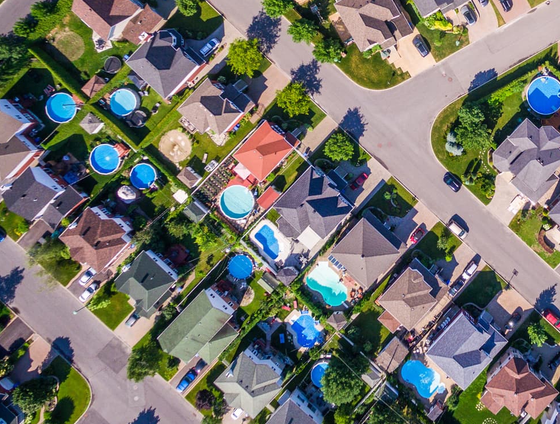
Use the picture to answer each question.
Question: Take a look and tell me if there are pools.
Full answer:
Yes, looking at the shot, I can spot a pool.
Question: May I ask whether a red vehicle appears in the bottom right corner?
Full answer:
Yes, in the bottom right corner there is a red vehicle.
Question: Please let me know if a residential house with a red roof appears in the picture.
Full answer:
Yes, a residential house with a red roof appears in the view.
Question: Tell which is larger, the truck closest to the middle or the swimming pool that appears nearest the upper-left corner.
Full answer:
The truck is smaller than the swimming pool.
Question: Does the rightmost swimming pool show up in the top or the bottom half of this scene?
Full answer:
The rightmost swimming pool is in the top half of the image.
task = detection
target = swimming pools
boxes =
[527,75,560,114]
[399,357,444,401]
[290,313,324,350]
[305,259,350,308]
[308,361,331,388]
[219,185,256,220]
[45,92,80,123]
[129,162,159,190]
[108,88,142,119]
[89,143,123,175]
[252,222,281,261]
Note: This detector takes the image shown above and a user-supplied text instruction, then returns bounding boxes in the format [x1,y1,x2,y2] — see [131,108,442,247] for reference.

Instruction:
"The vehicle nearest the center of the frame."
[347,169,372,194]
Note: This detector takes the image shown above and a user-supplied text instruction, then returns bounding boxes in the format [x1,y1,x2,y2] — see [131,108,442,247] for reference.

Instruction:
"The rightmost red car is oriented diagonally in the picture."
[541,307,560,328]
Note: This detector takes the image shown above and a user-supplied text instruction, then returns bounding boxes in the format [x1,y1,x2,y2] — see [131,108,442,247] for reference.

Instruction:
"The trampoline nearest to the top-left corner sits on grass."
[104,57,122,73]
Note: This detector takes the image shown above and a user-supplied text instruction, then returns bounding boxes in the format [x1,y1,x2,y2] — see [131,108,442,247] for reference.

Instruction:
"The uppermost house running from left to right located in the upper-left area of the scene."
[72,0,168,45]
